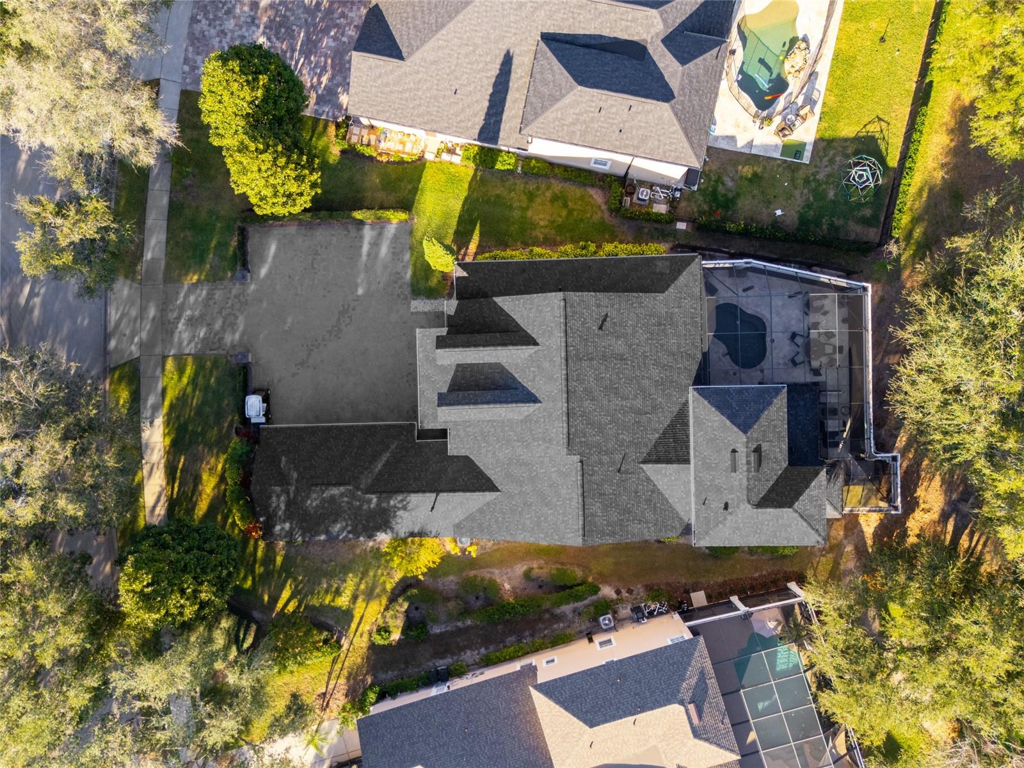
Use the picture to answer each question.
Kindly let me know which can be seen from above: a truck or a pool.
pool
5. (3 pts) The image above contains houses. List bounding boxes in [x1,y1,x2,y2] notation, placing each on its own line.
[254,255,847,546]
[345,0,726,217]
[357,614,734,768]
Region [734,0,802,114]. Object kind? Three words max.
swimming pool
